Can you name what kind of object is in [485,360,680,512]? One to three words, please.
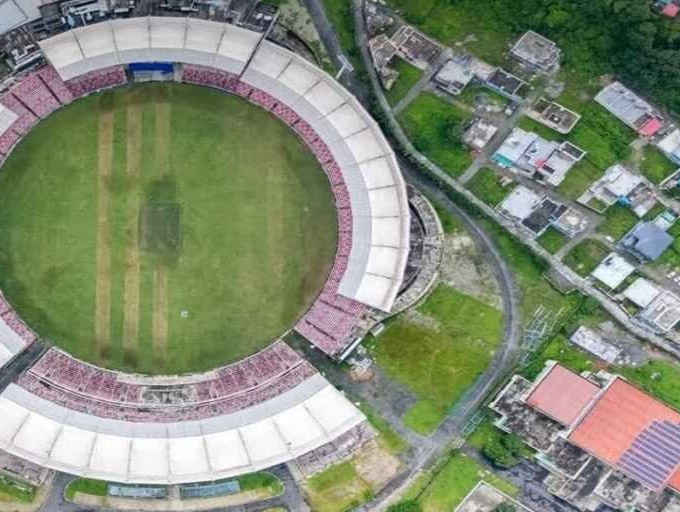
building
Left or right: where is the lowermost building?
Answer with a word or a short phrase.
right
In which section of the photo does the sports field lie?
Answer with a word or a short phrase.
left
